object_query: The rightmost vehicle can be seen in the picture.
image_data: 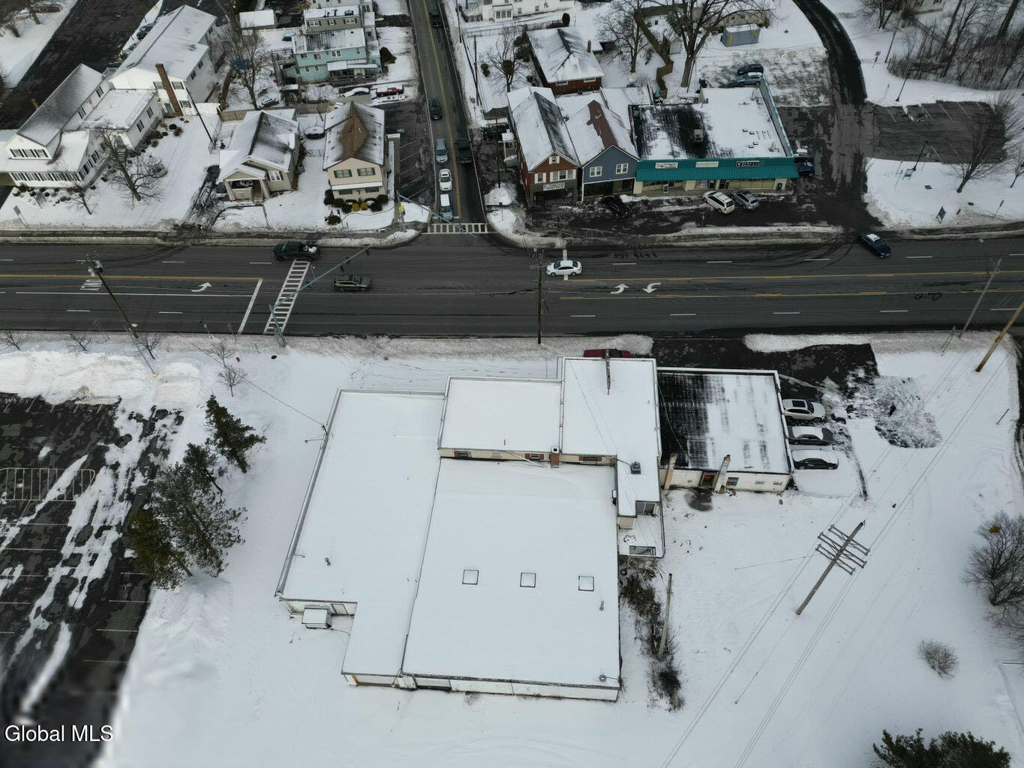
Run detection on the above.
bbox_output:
[856,234,896,256]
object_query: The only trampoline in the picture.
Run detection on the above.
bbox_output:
[301,120,324,142]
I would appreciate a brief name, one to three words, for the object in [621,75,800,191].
building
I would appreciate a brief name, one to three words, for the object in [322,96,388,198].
house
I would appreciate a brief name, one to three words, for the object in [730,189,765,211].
car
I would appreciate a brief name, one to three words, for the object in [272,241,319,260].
vehicle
